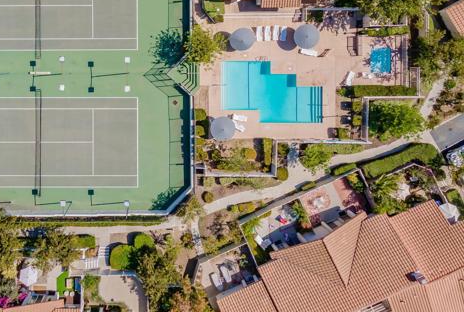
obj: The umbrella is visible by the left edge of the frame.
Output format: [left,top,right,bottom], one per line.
[19,264,39,284]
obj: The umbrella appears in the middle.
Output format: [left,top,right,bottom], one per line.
[209,115,235,141]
